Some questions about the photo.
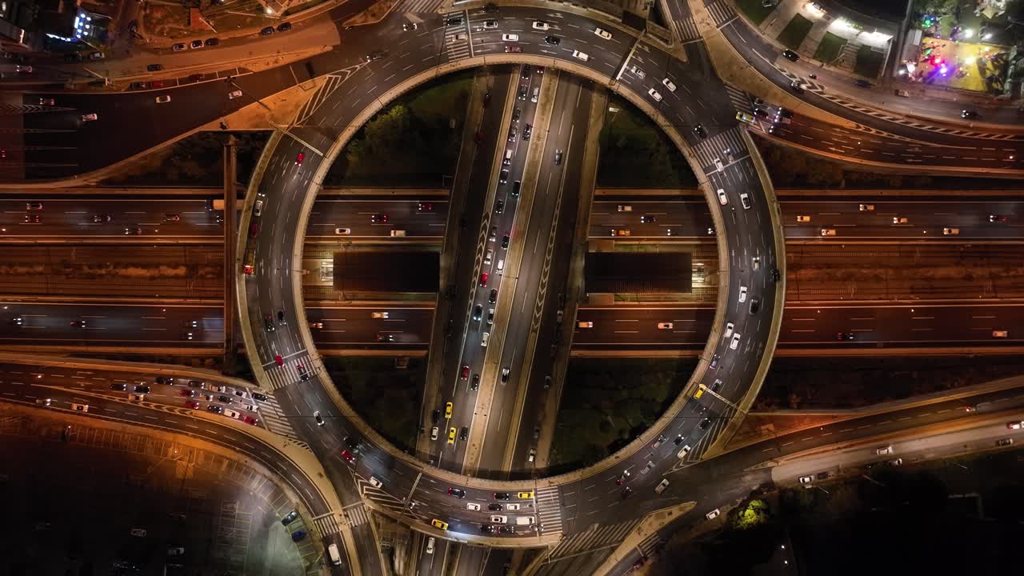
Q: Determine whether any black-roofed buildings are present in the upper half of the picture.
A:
Yes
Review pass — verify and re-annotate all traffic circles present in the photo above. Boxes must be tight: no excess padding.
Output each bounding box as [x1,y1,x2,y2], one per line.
[236,0,786,546]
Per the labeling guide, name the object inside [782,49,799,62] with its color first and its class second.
black vehicle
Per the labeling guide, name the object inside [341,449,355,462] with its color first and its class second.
red vehicle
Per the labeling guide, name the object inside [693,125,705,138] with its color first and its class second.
black vehicle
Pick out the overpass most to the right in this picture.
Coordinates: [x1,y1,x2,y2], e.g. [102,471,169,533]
[412,0,614,576]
